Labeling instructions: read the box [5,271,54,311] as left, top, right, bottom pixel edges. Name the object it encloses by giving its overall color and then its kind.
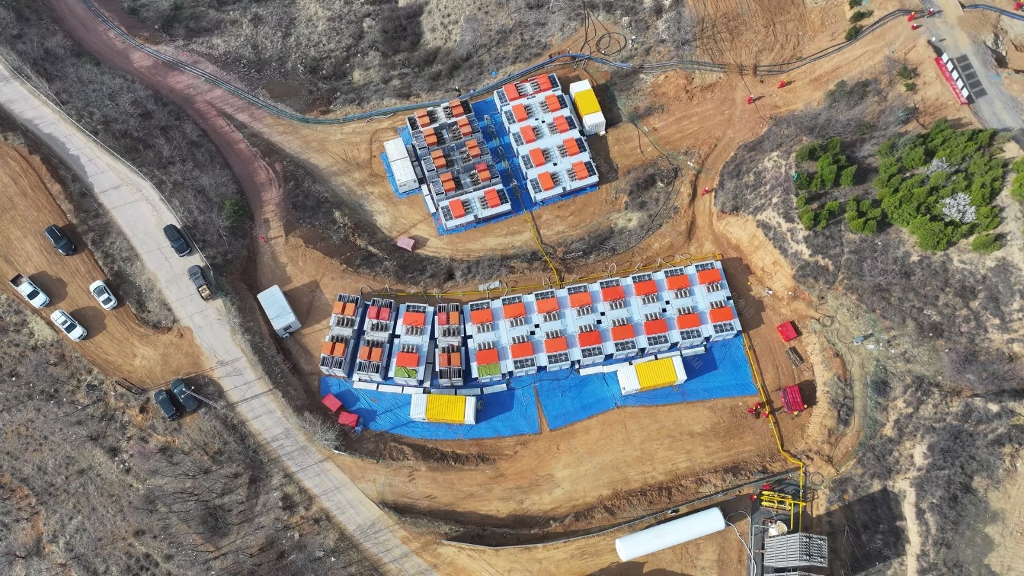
white truck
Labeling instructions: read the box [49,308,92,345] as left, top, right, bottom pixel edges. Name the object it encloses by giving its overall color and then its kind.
white car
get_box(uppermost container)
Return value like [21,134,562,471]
[567,79,608,140]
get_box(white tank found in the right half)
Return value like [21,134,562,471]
[614,507,733,562]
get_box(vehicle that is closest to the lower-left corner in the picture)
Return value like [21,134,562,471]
[149,388,182,428]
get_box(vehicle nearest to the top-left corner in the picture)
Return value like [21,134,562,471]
[42,223,81,260]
